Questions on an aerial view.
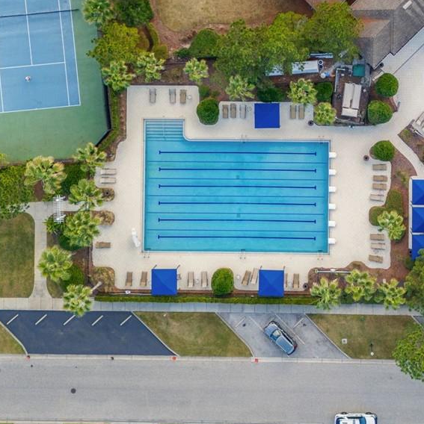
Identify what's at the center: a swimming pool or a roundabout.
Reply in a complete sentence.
It is a swimming pool that can be seen at the center.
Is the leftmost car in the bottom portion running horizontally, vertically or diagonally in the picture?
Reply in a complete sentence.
From this overhead view, the leftmost car in the bottom portion appears to run diagonally.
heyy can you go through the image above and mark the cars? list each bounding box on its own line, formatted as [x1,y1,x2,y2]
[334,412,377,424]
[262,319,299,357]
